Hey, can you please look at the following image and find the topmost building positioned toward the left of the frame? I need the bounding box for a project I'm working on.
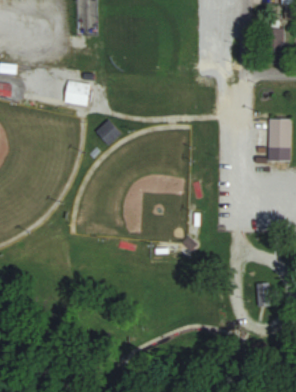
[66,81,92,106]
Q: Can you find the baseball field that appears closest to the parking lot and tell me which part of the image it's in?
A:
center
